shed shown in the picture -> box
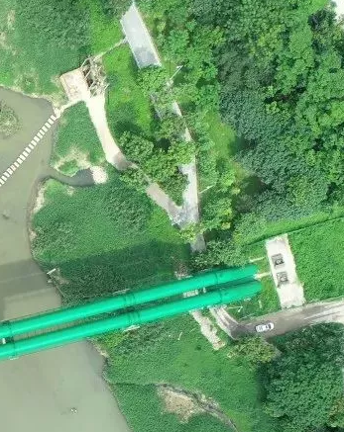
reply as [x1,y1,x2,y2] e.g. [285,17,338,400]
[120,2,161,69]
